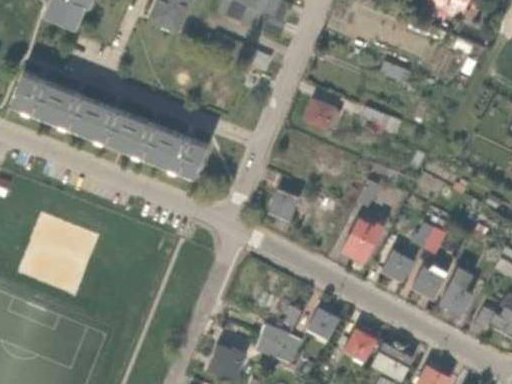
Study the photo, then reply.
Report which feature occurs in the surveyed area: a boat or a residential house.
residential house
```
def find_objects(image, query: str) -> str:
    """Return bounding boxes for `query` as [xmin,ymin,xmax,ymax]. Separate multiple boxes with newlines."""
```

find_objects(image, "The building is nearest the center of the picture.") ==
[268,189,298,223]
